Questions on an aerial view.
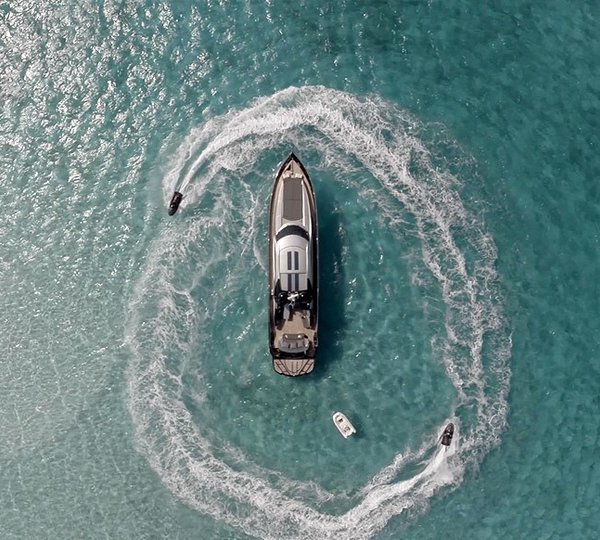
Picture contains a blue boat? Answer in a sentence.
No, no blue boat is visible in the scene.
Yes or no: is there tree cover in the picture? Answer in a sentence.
No, tree cover can't be seen anywhere here.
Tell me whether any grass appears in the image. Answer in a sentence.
No, there is no grass in the image.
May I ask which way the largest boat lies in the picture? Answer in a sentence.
The largest boat runs up and down in the image.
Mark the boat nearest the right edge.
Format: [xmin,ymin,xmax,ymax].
[441,422,454,445]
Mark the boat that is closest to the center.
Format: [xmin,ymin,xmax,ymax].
[268,152,319,377]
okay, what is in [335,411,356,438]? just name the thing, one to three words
boat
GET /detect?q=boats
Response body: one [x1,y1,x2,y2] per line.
[169,193,183,216]
[441,422,454,445]
[268,152,319,377]
[335,411,356,438]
